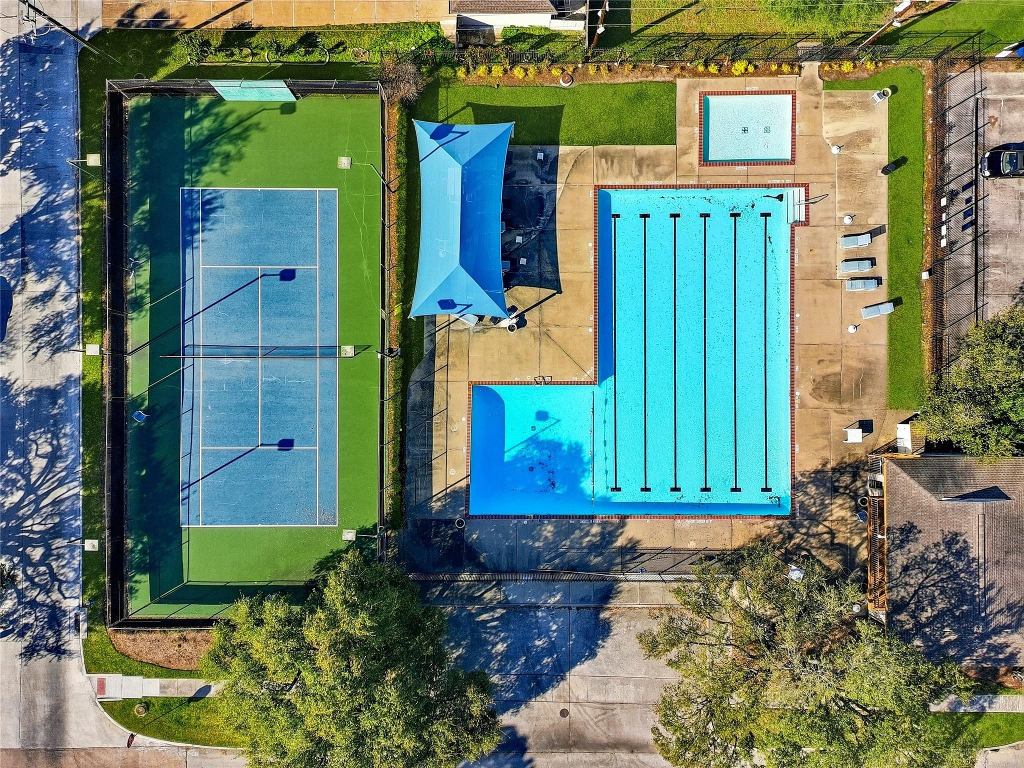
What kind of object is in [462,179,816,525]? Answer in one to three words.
swimming pool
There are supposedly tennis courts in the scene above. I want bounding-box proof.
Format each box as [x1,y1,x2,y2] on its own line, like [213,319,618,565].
[129,97,388,619]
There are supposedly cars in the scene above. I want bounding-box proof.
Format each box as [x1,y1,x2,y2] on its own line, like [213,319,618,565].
[984,146,1024,179]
